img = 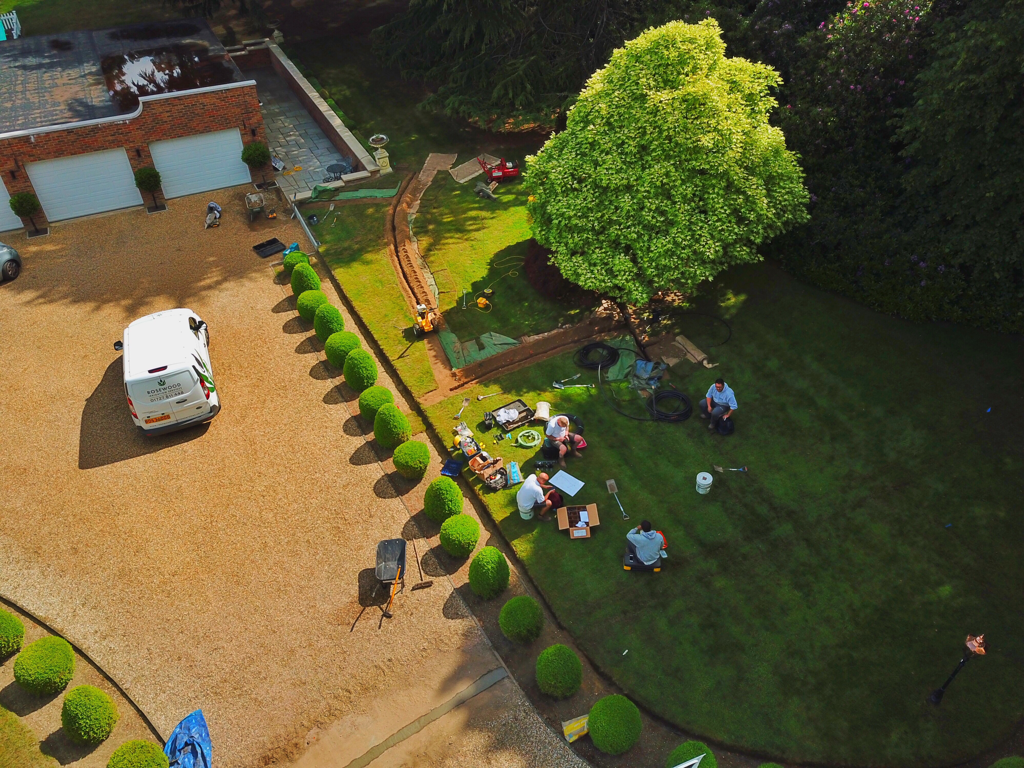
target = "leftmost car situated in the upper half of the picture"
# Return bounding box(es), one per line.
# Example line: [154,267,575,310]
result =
[0,230,27,280]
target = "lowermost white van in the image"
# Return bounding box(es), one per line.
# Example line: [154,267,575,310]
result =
[110,302,224,437]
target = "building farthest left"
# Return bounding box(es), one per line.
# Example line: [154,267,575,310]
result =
[0,16,276,230]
